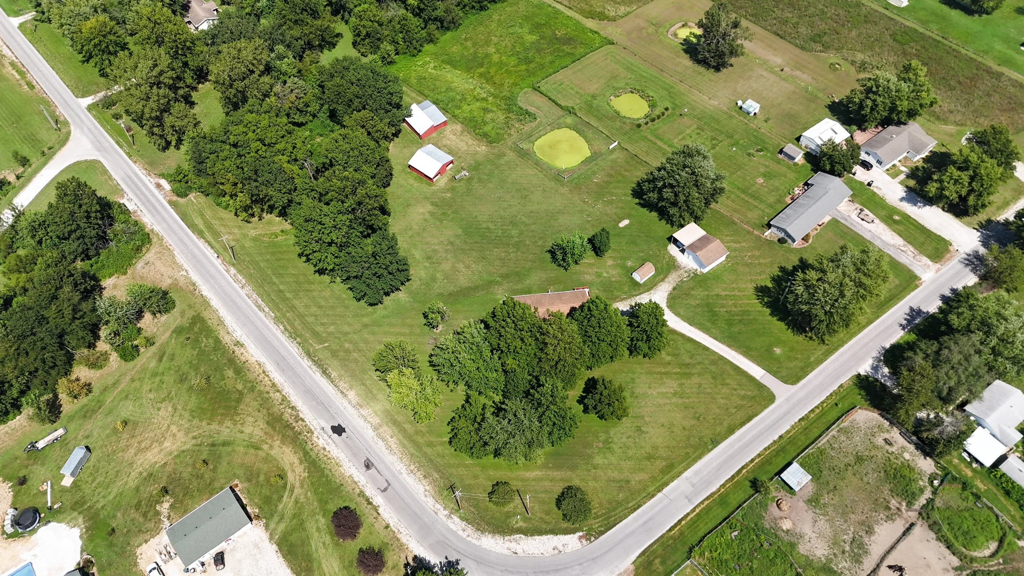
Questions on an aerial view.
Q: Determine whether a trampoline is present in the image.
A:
Yes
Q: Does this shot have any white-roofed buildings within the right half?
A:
Yes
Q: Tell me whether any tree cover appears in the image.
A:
Yes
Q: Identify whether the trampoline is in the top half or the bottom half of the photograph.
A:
bottom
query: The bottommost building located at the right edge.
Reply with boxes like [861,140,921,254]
[994,454,1024,499]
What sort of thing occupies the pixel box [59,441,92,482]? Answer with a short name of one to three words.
trailer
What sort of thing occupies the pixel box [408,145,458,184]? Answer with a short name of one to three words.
barn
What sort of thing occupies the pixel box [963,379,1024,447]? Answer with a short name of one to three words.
house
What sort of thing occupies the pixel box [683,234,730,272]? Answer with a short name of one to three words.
building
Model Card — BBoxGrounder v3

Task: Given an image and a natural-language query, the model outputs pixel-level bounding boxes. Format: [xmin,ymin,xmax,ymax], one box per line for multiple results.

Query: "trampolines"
[9,505,39,530]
